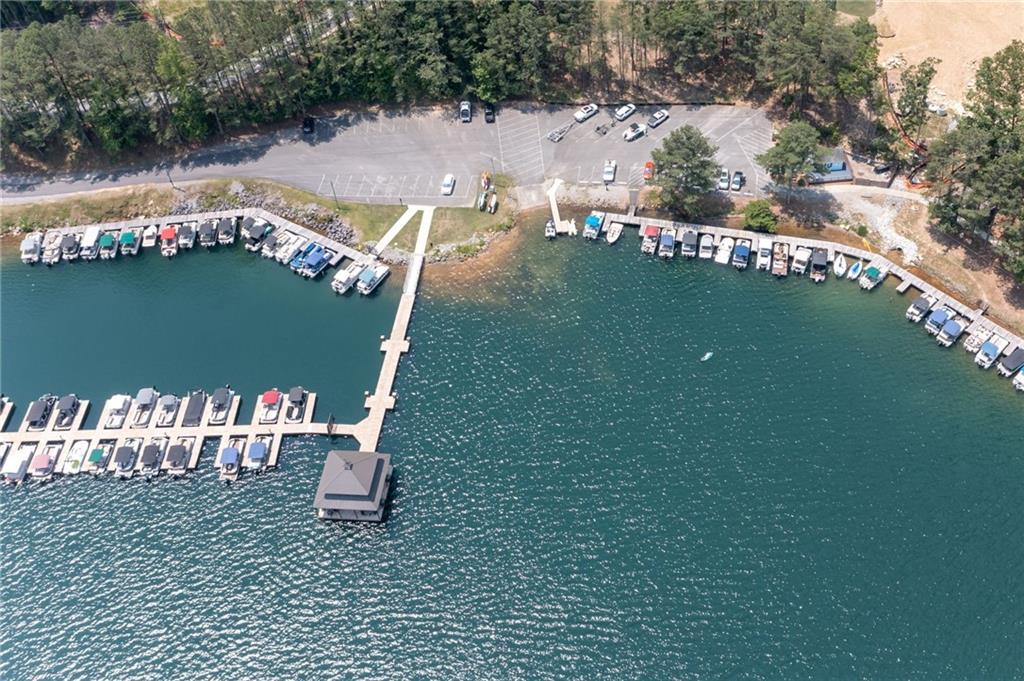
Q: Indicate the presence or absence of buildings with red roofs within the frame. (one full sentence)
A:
No, I can't see a single building with a red roof in this photo.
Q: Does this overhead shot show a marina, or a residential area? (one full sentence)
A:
What you see here is a marina.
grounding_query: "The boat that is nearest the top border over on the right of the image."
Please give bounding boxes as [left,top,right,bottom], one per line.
[622,118,648,139]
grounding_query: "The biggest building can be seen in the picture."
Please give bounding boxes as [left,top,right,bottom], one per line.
[314,449,390,521]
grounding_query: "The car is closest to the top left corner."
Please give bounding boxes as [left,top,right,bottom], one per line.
[302,113,314,134]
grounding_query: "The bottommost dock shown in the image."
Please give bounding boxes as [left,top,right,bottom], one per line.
[0,393,316,473]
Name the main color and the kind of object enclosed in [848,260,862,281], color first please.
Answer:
white boat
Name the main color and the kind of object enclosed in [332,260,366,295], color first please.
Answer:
white boat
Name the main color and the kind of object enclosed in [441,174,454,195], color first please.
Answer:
white vehicle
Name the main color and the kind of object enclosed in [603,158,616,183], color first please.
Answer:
white vehicle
